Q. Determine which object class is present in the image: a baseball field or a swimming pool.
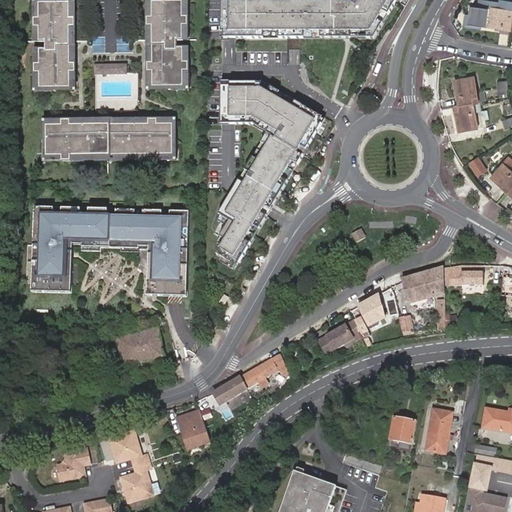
swimming pool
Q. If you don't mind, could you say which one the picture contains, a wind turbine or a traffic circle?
traffic circle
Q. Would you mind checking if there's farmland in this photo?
No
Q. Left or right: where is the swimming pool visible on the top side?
left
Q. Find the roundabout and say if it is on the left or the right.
right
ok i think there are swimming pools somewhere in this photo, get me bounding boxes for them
[96,73,138,110]
[219,404,232,418]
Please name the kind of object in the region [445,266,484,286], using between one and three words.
house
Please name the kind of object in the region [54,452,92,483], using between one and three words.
house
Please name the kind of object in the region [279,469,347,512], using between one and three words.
building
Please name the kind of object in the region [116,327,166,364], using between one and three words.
building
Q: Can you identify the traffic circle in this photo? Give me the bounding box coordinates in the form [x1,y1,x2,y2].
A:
[342,108,440,206]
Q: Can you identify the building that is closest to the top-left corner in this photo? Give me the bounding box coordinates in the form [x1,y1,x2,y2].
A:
[32,0,76,92]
